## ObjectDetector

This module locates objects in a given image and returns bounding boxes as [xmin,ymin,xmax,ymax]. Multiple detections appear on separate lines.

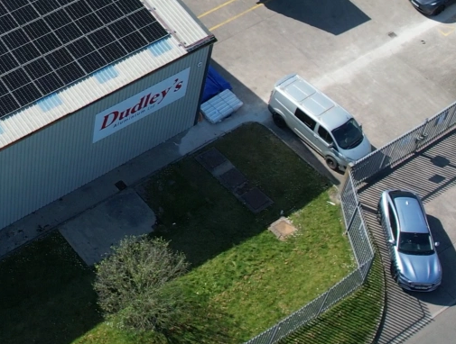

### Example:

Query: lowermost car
[370,191,443,299]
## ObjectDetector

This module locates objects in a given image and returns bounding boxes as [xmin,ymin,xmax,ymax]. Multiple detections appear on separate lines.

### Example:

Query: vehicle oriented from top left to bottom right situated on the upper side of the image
[267,71,375,177]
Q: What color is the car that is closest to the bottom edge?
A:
blue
